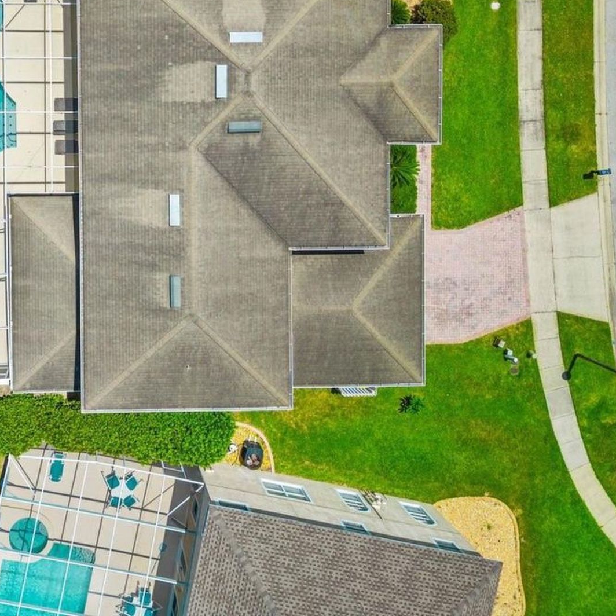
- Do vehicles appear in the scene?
No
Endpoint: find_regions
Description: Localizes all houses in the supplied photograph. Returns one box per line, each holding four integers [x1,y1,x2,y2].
[177,464,504,616]
[8,0,445,416]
